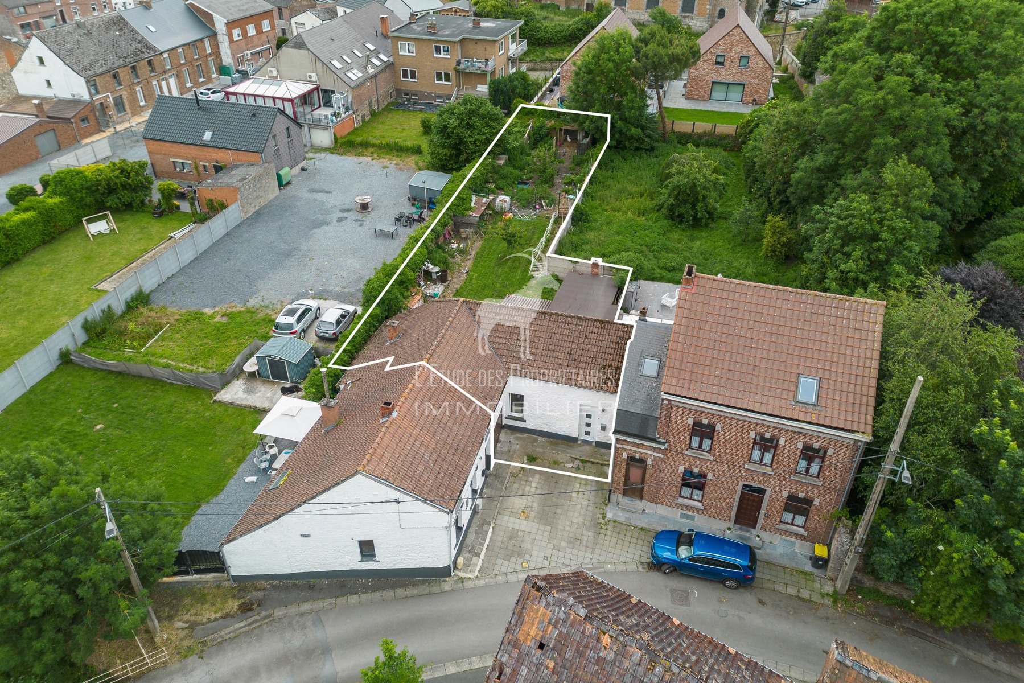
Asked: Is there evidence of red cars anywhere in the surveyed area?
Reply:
No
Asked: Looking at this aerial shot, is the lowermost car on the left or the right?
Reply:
right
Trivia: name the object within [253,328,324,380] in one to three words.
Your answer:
shed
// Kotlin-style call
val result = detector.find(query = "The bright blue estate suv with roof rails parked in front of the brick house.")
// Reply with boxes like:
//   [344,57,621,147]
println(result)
[650,523,759,586]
